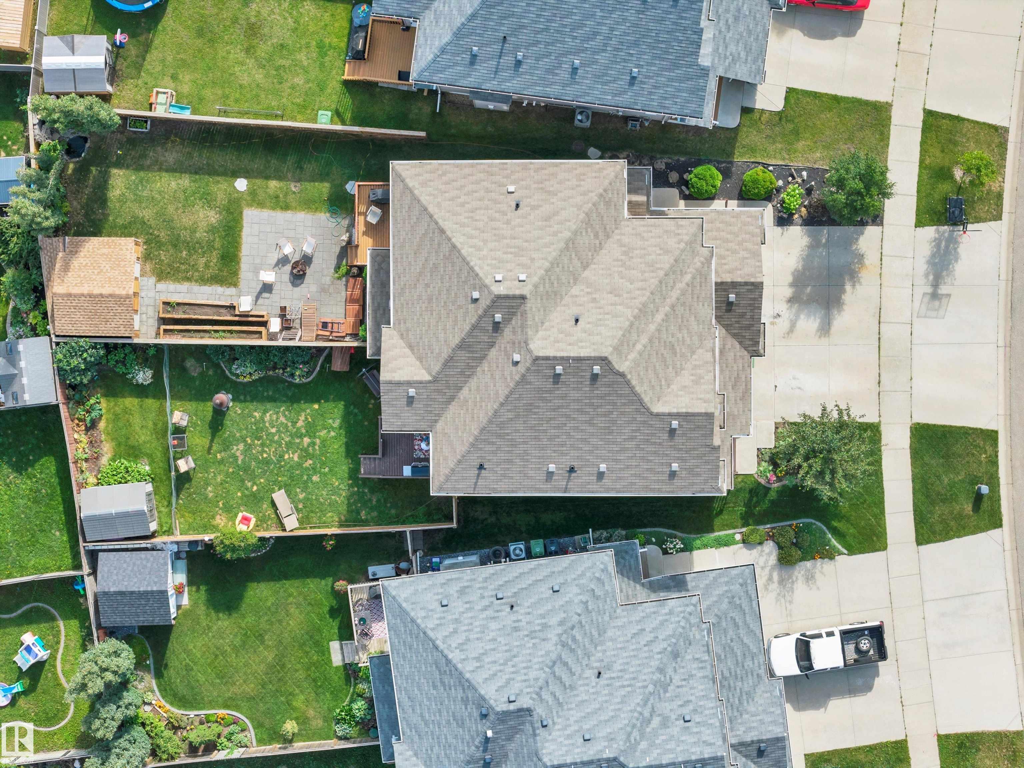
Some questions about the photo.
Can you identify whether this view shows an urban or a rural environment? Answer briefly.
urban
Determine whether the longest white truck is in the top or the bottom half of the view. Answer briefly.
bottom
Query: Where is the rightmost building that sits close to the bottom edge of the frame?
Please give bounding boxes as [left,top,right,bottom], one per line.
[367,531,797,768]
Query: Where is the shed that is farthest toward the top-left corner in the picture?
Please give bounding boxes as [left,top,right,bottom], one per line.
[42,35,118,95]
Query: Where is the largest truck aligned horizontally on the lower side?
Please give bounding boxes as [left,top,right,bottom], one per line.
[765,619,892,678]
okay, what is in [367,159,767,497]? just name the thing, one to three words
house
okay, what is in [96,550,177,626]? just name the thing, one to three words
shed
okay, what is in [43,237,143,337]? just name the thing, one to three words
shed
